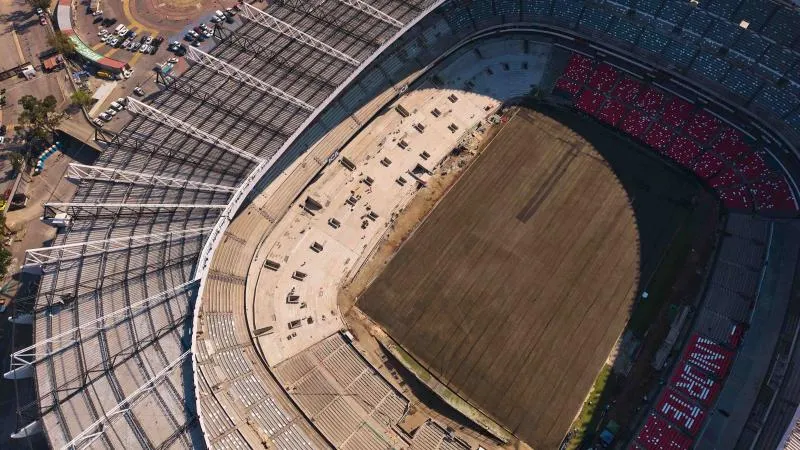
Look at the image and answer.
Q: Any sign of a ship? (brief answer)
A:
No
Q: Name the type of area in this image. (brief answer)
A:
sports ground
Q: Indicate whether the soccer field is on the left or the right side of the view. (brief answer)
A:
right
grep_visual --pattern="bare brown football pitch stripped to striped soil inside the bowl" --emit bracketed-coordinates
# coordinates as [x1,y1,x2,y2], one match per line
[355,107,697,450]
